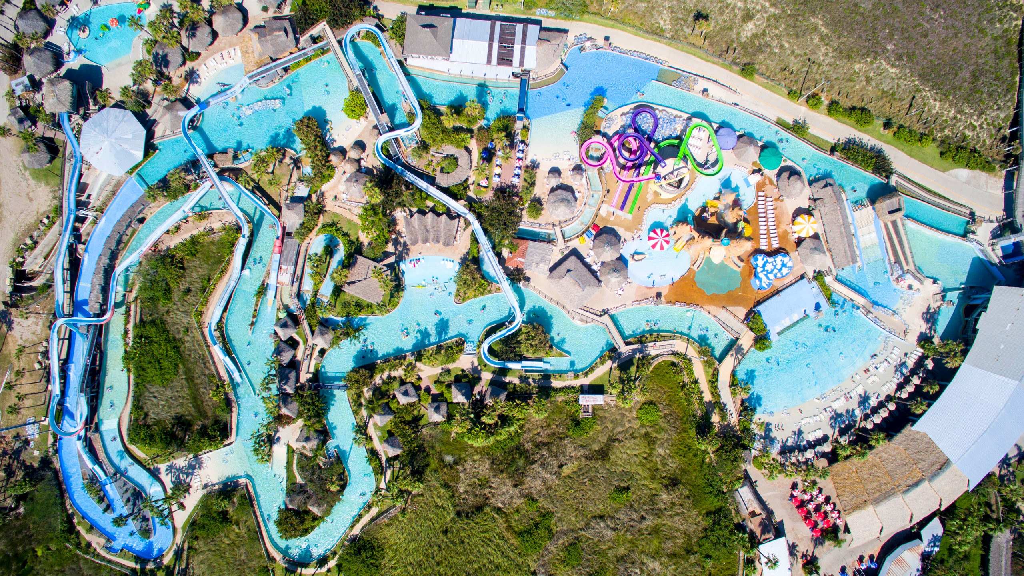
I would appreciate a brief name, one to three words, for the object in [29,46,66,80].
shed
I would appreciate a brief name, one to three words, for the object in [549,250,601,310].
building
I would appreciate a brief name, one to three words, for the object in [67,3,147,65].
swimming pool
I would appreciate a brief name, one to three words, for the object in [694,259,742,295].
swimming pool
